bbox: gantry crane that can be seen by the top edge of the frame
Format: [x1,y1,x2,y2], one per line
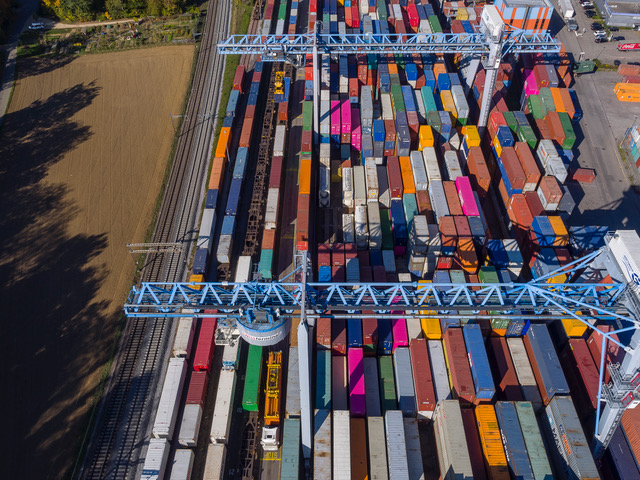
[211,0,562,152]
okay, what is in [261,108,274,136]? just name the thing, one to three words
rail car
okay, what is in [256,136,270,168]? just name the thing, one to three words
rail car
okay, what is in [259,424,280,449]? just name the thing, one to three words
vehicle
